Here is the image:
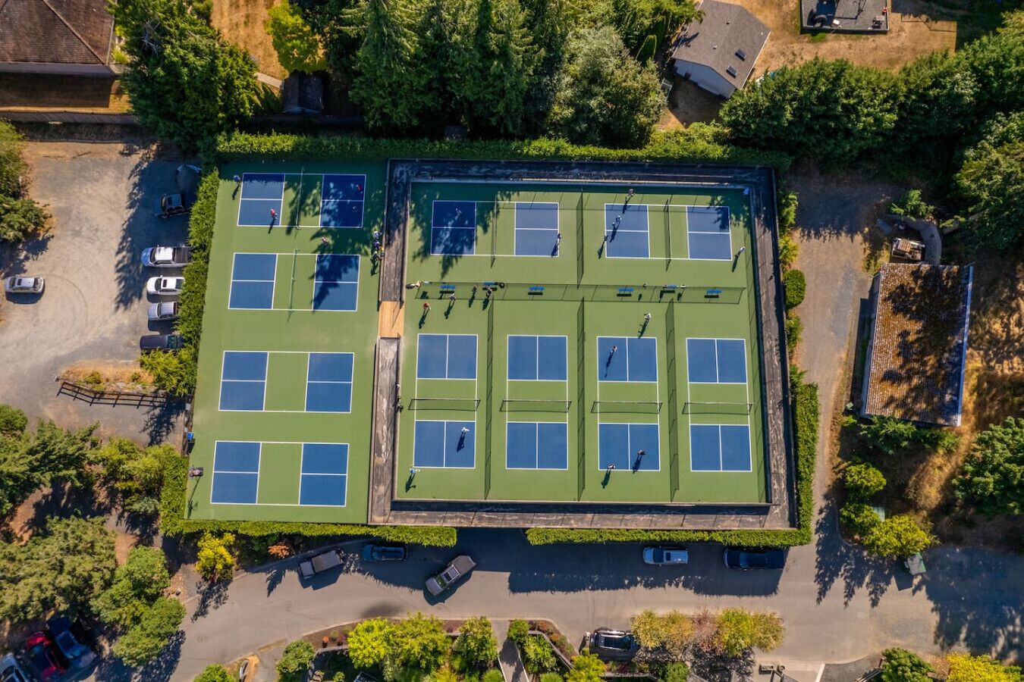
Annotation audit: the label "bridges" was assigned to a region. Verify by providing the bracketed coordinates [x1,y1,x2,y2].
[378,298,404,337]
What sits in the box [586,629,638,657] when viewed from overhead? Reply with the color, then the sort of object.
black car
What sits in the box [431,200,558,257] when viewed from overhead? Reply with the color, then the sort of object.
blue sports court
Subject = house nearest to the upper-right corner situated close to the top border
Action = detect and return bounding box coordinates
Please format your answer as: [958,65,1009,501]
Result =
[671,0,772,100]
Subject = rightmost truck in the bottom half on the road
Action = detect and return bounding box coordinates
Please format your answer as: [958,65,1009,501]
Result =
[722,548,787,572]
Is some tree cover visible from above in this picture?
Yes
